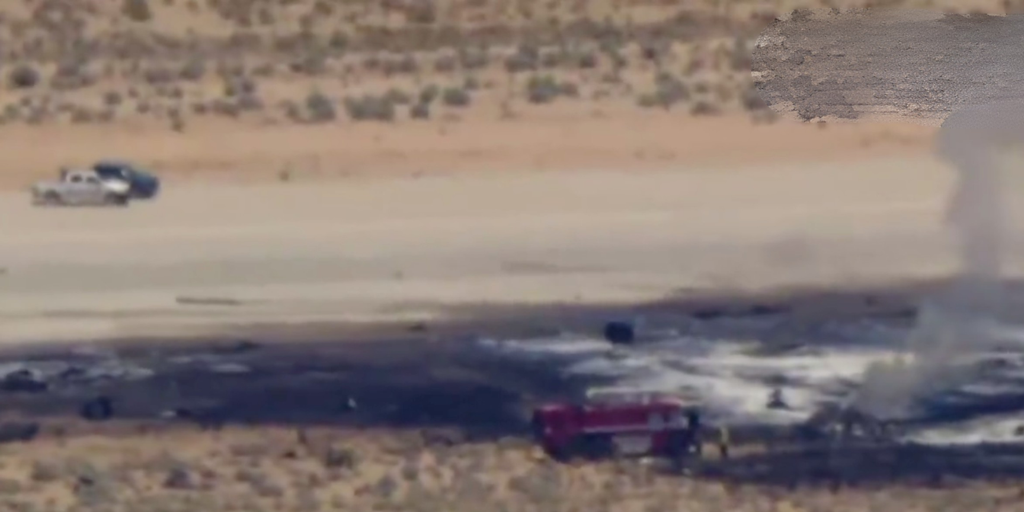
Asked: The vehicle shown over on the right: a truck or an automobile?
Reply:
truck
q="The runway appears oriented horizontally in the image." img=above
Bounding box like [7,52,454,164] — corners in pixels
[0,145,1024,345]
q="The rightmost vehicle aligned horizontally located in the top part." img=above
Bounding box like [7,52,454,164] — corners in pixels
[91,155,160,189]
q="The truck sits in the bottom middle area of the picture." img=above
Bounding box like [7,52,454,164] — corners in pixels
[534,393,703,460]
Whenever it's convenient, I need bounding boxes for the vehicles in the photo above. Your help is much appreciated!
[29,169,131,205]
[534,393,703,460]
[91,155,160,189]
